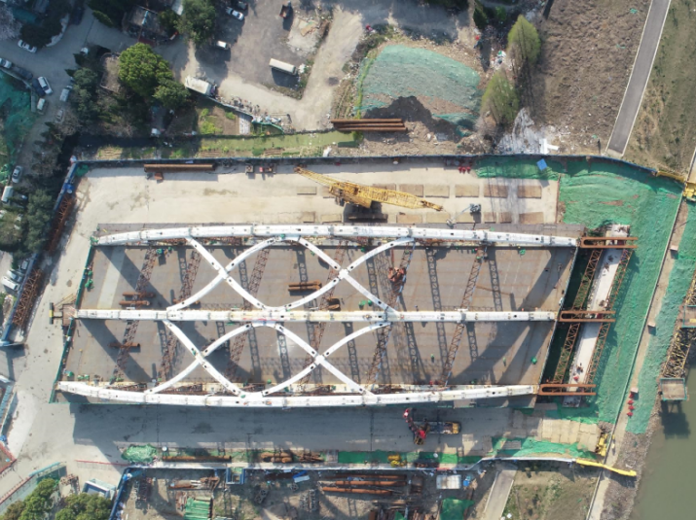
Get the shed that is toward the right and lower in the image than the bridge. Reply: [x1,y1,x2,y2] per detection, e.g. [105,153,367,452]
[436,474,462,490]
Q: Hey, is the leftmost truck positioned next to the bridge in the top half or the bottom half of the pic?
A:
bottom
